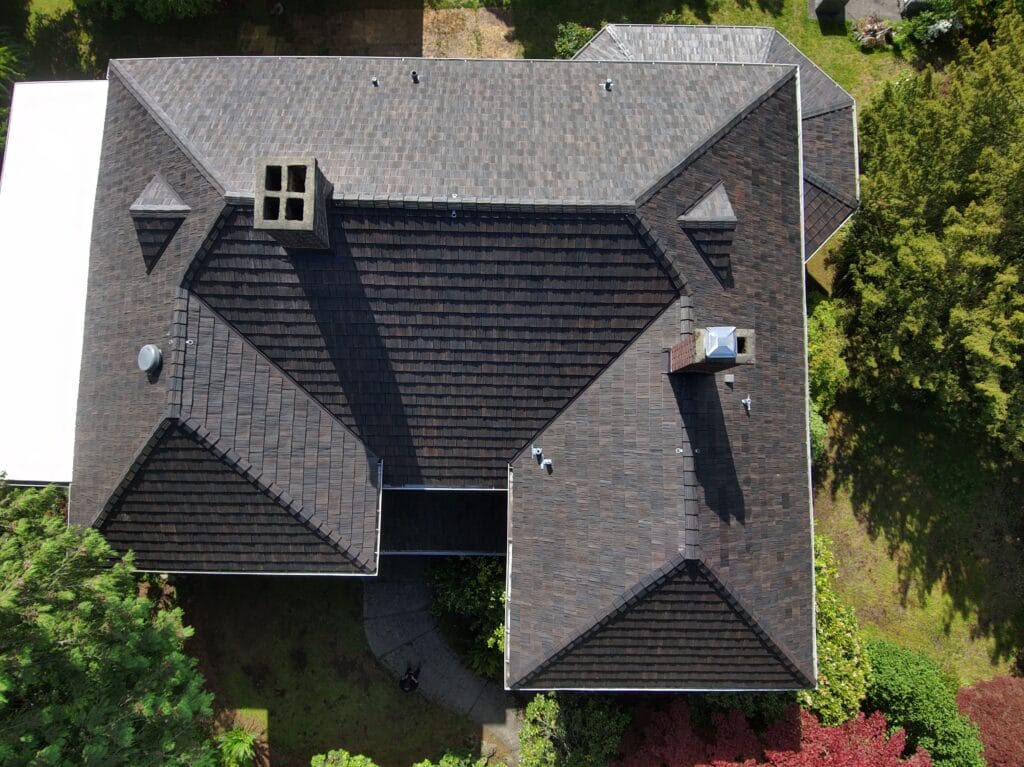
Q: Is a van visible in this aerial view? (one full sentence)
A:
No, I can see no van in this picture.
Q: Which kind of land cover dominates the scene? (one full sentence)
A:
What you mostly see from above here is buildings.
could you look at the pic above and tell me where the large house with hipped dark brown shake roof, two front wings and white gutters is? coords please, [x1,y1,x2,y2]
[0,22,863,694]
